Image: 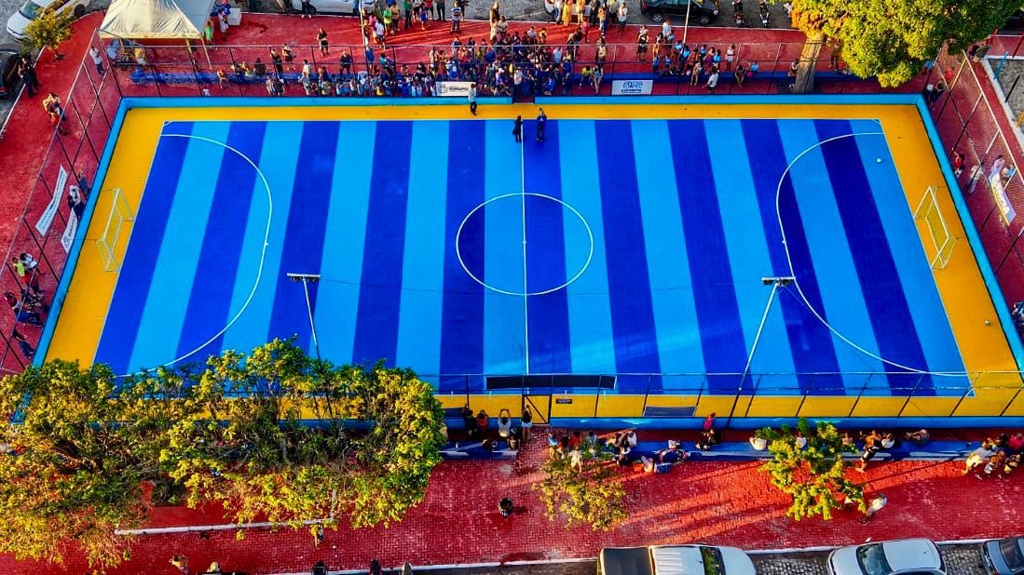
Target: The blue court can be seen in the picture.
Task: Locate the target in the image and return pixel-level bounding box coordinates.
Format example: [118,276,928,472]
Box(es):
[26,104,1024,425]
